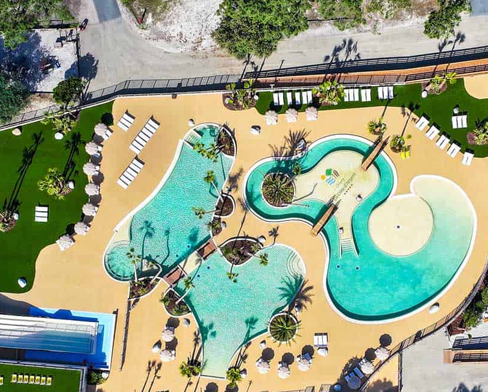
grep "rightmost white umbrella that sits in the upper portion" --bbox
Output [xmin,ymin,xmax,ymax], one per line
[306,106,319,120]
